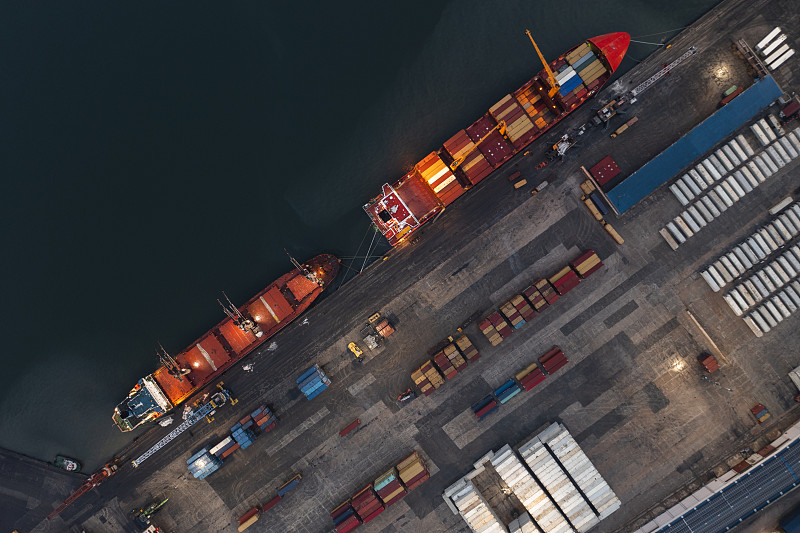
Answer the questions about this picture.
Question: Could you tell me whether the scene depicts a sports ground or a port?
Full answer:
This looks like a port.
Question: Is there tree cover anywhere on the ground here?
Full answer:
No, the scene doesn't show any tree cover.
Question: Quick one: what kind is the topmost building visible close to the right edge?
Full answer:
The topmost building visible close to the right edge is a warehouse.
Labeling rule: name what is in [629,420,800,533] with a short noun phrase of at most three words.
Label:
shed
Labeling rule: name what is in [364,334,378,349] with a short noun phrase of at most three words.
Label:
vehicle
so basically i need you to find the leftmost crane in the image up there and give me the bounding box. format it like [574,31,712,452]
[44,449,133,524]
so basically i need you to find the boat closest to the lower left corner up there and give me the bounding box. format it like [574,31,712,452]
[54,453,84,474]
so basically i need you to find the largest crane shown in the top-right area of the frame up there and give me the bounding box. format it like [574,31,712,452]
[584,45,698,131]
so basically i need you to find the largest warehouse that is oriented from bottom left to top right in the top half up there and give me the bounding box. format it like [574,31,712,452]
[603,73,785,215]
